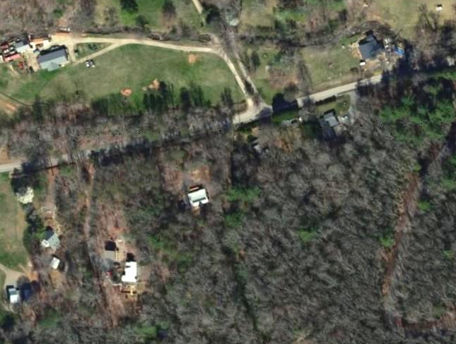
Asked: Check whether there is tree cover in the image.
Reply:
Yes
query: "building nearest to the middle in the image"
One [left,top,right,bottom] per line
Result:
[185,186,209,208]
